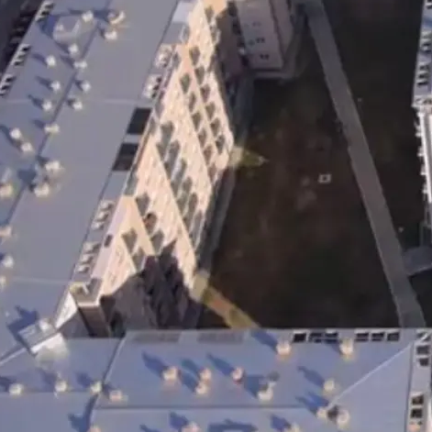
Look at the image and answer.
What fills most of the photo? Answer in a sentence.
The bulk of the photo consists of buildings.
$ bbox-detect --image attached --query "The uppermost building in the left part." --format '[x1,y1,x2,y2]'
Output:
[0,0,242,335]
